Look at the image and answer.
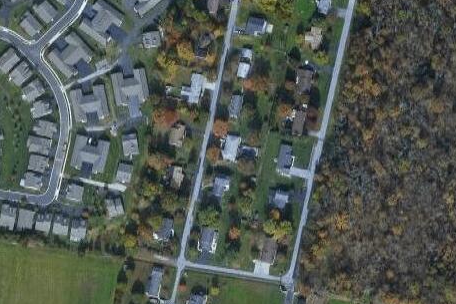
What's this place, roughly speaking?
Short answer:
residential area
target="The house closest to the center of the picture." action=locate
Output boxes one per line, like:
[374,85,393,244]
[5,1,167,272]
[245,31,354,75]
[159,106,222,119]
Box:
[222,135,241,160]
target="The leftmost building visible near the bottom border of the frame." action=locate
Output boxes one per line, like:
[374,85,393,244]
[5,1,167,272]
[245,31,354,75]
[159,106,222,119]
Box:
[145,267,164,296]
